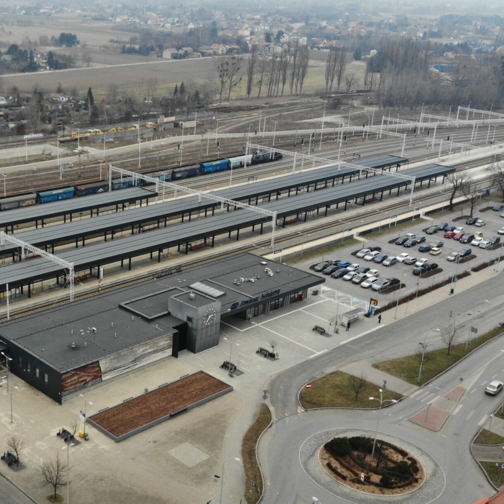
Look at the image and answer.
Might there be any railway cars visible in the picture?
Yes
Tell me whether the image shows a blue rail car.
Yes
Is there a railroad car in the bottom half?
No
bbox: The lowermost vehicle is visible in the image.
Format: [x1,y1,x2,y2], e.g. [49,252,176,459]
[482,382,504,396]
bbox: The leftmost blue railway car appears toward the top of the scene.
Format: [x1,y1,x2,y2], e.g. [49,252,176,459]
[36,186,75,203]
